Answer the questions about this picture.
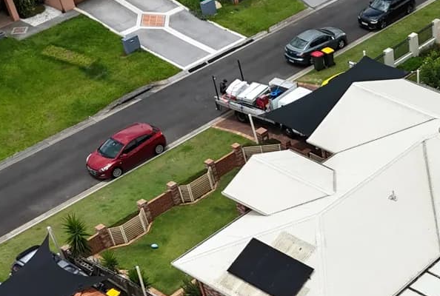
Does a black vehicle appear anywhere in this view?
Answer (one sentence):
Yes, I can see a black vehicle in this picture.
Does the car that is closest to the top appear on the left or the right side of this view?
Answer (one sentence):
The car that is closest to the top sits on the right side.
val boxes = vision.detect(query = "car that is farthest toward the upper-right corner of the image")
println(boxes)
[357,0,418,31]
